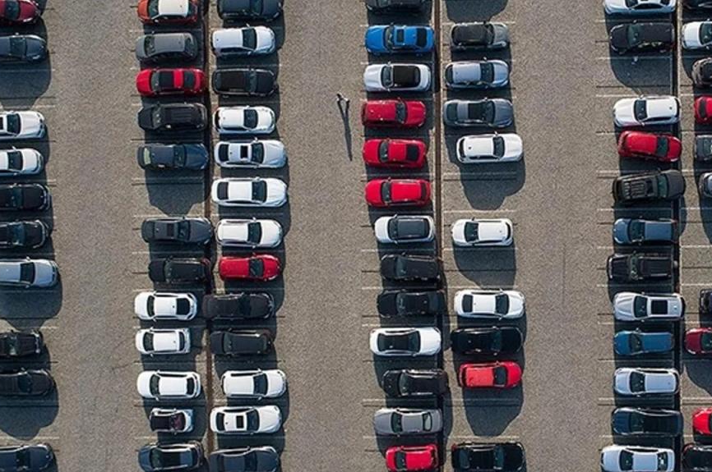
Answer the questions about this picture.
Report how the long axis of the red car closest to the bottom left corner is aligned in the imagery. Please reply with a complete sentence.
The red car closest to the bottom left corner runs from left to right in the image.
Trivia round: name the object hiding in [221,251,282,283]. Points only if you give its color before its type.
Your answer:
red car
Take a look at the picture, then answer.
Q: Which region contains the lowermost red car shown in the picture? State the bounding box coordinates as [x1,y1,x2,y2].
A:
[386,443,438,472]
